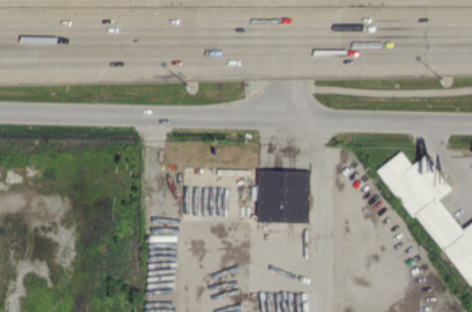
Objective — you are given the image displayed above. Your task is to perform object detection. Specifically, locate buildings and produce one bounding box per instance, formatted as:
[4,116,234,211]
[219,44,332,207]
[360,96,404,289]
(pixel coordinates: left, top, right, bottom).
[377,152,472,286]
[258,170,309,222]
